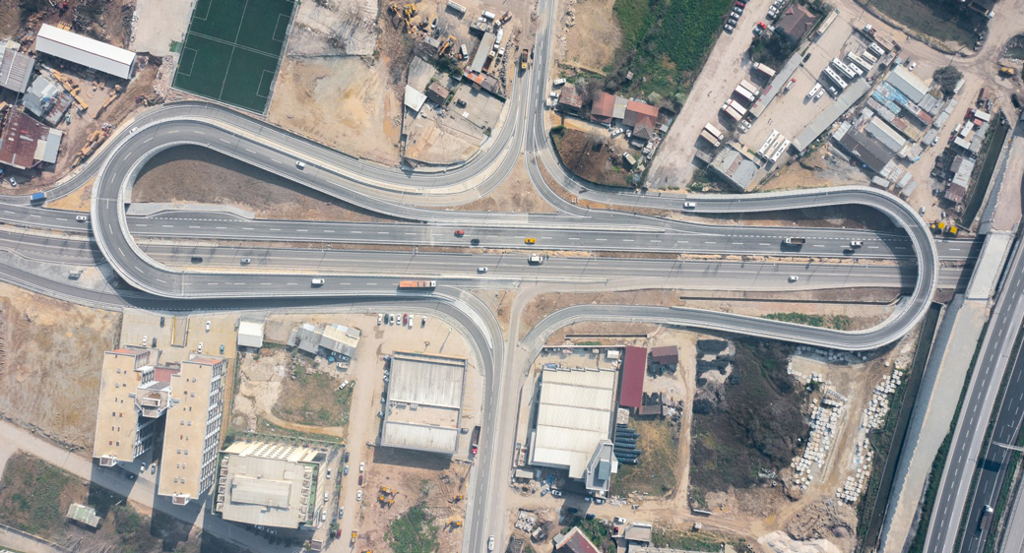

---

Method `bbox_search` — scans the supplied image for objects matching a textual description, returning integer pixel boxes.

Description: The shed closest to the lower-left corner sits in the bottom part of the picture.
[66,502,99,528]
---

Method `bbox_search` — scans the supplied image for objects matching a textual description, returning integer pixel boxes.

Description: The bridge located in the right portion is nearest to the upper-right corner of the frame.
[964,225,1014,307]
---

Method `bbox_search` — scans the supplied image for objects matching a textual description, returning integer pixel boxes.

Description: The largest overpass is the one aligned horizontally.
[90,118,479,300]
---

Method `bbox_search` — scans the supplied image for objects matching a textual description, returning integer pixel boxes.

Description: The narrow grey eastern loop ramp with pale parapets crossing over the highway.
[588,183,939,353]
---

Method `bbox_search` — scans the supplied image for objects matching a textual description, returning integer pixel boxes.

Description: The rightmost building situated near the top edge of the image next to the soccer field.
[35,23,141,81]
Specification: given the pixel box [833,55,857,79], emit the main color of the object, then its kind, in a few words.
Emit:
white bus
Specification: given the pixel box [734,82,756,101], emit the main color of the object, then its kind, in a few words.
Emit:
white vehicle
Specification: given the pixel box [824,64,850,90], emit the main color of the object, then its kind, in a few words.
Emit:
white bus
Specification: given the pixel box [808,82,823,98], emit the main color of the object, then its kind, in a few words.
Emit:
white vehicle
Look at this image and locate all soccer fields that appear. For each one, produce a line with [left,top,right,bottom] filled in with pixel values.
[170,0,298,117]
